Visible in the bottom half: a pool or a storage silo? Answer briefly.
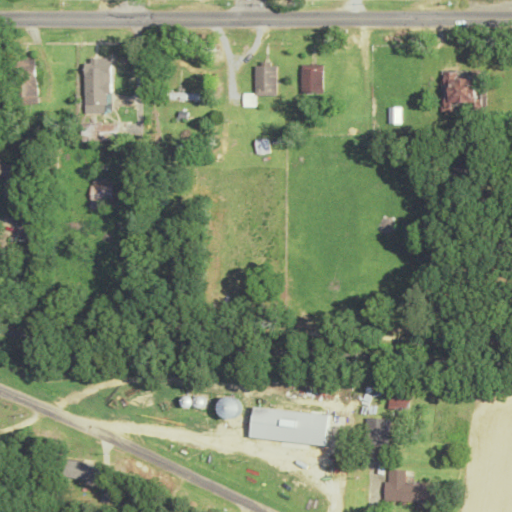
storage silo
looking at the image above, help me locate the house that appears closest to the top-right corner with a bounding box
[446,68,490,111]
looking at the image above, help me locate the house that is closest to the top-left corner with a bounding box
[18,57,42,104]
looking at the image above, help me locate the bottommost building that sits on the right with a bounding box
[384,470,428,502]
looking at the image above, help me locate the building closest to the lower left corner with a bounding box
[64,457,92,479]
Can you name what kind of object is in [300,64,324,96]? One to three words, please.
house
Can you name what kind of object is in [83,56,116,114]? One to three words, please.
house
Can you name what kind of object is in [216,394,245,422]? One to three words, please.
silo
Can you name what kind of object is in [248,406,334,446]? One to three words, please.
barn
